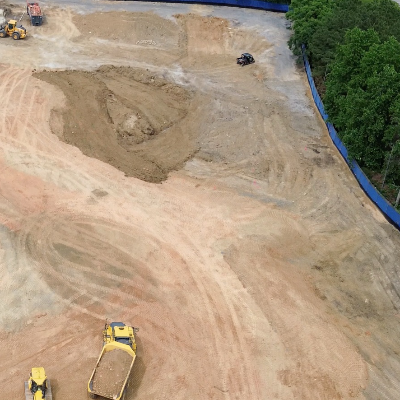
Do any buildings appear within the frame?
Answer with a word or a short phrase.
No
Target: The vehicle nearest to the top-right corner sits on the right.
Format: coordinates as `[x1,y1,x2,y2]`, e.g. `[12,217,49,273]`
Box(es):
[239,51,256,65]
